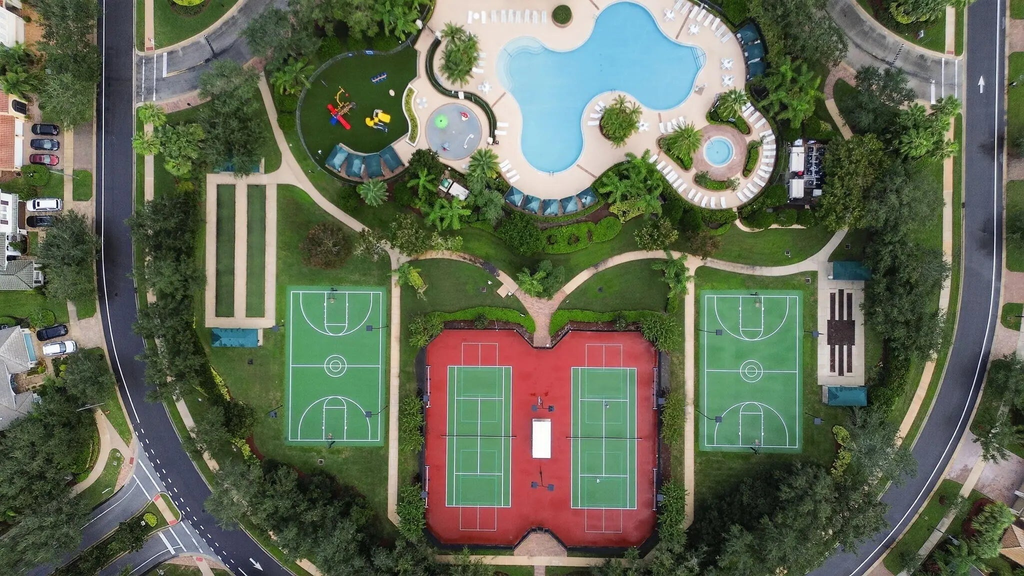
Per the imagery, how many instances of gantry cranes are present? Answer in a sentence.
Not a single gantry crane can be seen.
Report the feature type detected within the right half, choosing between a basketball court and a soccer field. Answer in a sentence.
What appears within the right half is a basketball court.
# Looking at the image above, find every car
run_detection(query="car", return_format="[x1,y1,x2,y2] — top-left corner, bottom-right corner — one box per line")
[32,138,61,151]
[43,340,78,354]
[28,215,54,228]
[29,198,63,212]
[32,123,61,136]
[31,153,61,166]
[36,325,69,340]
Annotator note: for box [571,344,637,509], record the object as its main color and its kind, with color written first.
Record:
green tennis court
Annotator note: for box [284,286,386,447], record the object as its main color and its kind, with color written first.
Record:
green basketball court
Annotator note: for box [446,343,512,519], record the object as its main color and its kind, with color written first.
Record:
green tennis court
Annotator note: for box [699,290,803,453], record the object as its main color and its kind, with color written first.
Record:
green basketball court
